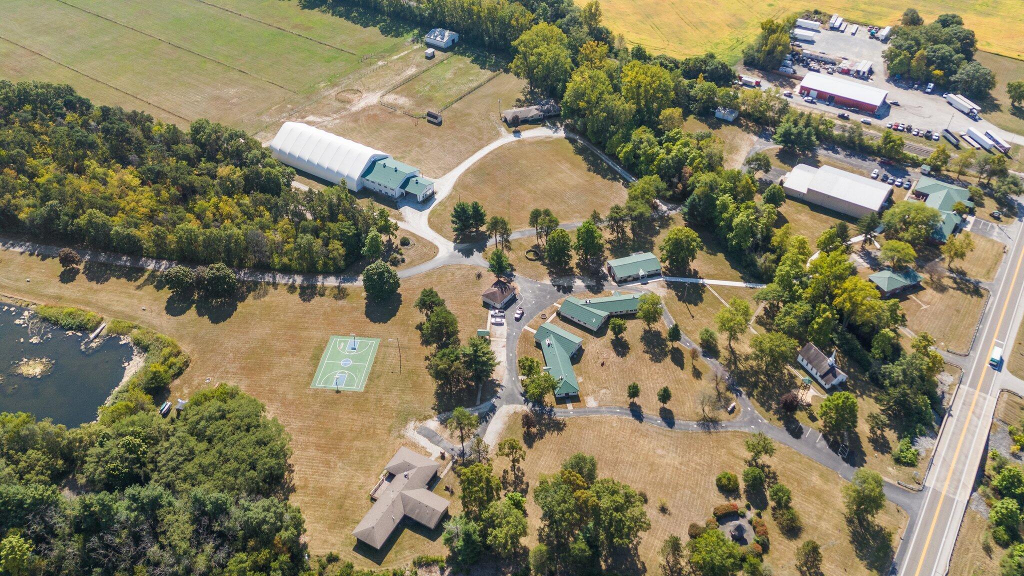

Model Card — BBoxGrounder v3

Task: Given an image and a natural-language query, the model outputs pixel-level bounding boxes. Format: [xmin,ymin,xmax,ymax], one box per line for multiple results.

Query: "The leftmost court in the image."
[309,336,381,392]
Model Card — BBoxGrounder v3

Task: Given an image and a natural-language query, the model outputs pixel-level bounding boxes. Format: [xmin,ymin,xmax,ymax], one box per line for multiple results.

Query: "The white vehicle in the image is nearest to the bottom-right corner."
[988,342,1004,366]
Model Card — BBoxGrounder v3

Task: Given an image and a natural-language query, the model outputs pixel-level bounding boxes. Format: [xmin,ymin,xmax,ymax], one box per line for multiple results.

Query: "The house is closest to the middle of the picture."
[482,281,516,308]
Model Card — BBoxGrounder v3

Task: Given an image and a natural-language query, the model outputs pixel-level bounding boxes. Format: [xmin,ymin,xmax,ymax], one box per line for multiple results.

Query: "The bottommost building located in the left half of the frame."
[353,446,450,552]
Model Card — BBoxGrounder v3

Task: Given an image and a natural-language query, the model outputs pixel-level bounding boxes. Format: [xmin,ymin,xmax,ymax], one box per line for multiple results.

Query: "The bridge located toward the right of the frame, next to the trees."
[915,377,1003,520]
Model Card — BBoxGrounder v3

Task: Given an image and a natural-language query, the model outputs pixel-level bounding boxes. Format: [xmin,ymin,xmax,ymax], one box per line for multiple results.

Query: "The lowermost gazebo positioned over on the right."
[730,520,746,539]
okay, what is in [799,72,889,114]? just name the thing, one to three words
barn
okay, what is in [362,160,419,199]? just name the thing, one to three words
building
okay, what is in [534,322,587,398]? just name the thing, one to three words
building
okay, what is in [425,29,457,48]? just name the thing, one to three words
barn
